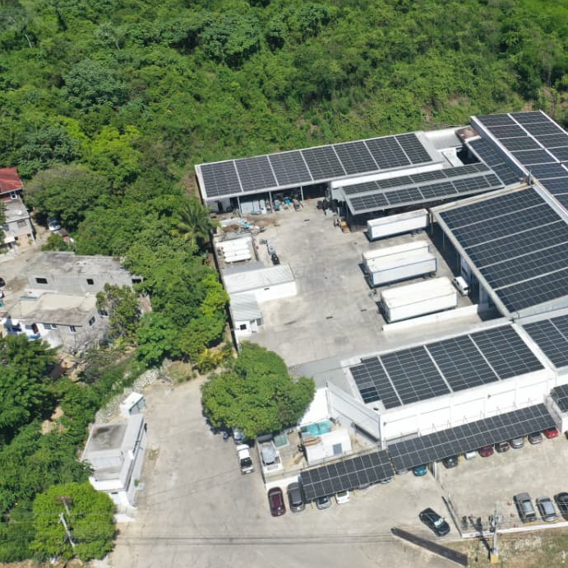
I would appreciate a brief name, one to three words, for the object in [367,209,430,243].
trailer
